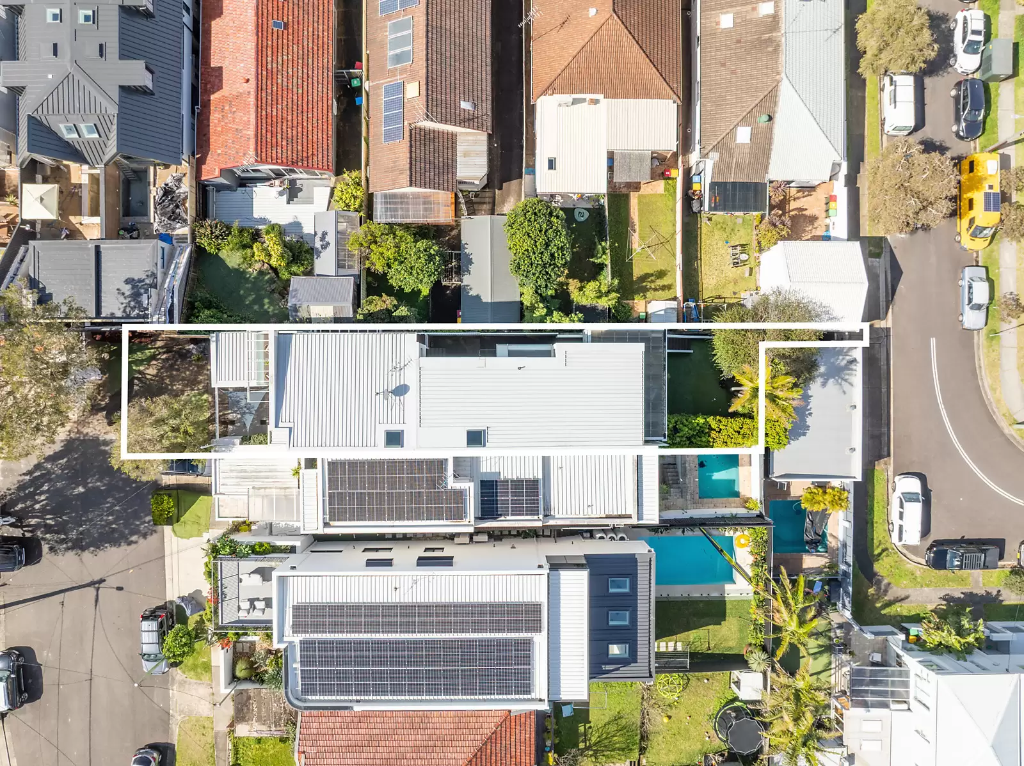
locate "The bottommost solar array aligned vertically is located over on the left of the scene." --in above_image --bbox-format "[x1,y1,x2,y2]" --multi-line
[381,80,403,142]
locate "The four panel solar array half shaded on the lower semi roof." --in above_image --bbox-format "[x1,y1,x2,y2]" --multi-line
[479,480,540,517]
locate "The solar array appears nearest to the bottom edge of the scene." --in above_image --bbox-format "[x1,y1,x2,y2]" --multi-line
[298,641,535,698]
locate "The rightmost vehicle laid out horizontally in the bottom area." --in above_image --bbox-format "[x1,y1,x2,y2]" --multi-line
[923,537,1003,574]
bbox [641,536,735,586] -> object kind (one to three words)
swimming pool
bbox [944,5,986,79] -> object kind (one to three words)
car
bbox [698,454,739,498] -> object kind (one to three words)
swimming pool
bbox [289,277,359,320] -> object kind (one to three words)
shed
